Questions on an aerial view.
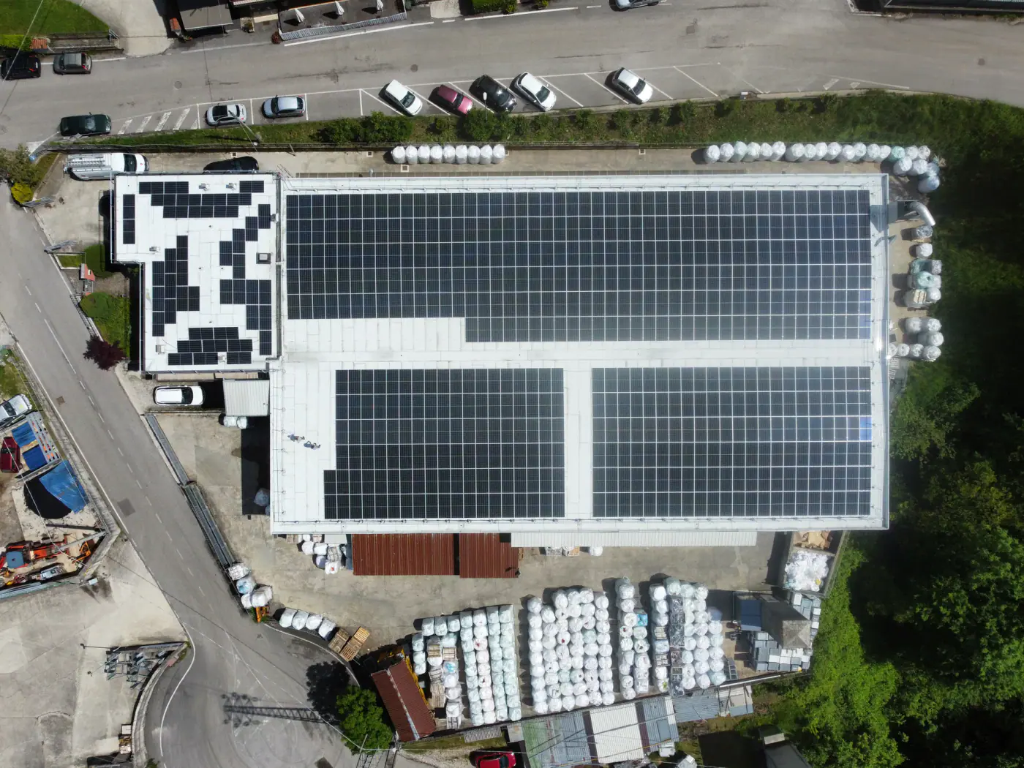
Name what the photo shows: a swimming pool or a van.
van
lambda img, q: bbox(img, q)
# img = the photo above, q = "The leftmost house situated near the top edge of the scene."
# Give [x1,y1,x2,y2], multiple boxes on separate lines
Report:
[158,0,251,40]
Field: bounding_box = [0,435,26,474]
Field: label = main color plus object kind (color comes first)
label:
red car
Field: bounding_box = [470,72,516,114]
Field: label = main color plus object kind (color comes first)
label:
black car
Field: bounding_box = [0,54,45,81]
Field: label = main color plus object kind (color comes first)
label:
black car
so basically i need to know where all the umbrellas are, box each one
[374,0,383,12]
[294,9,305,24]
[335,1,345,17]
